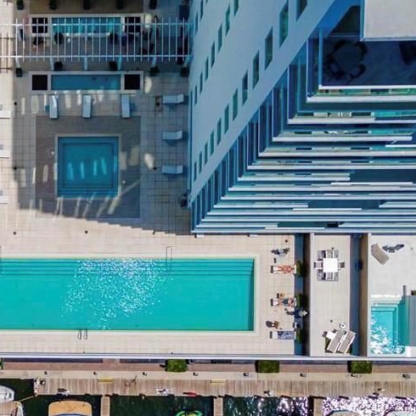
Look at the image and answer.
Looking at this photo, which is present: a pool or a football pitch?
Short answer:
pool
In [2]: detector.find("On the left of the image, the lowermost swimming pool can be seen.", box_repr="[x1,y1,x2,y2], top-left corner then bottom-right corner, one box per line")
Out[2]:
[0,254,259,336]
